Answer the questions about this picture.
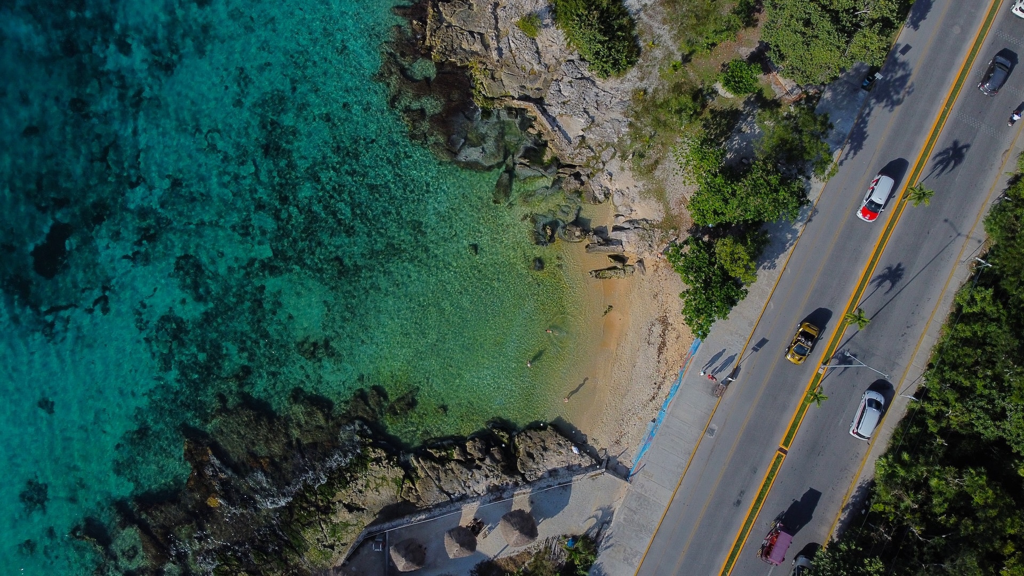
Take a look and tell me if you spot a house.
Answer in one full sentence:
No, I can see no house in this picture.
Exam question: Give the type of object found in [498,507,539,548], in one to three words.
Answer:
umbrella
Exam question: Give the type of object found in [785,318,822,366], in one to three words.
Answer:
car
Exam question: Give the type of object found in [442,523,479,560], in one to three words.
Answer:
umbrella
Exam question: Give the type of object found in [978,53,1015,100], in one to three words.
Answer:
car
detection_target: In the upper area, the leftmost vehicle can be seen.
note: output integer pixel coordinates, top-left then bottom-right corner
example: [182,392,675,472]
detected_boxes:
[859,172,900,224]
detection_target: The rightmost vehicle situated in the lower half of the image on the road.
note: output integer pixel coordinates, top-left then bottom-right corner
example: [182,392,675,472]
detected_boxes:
[850,393,886,444]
